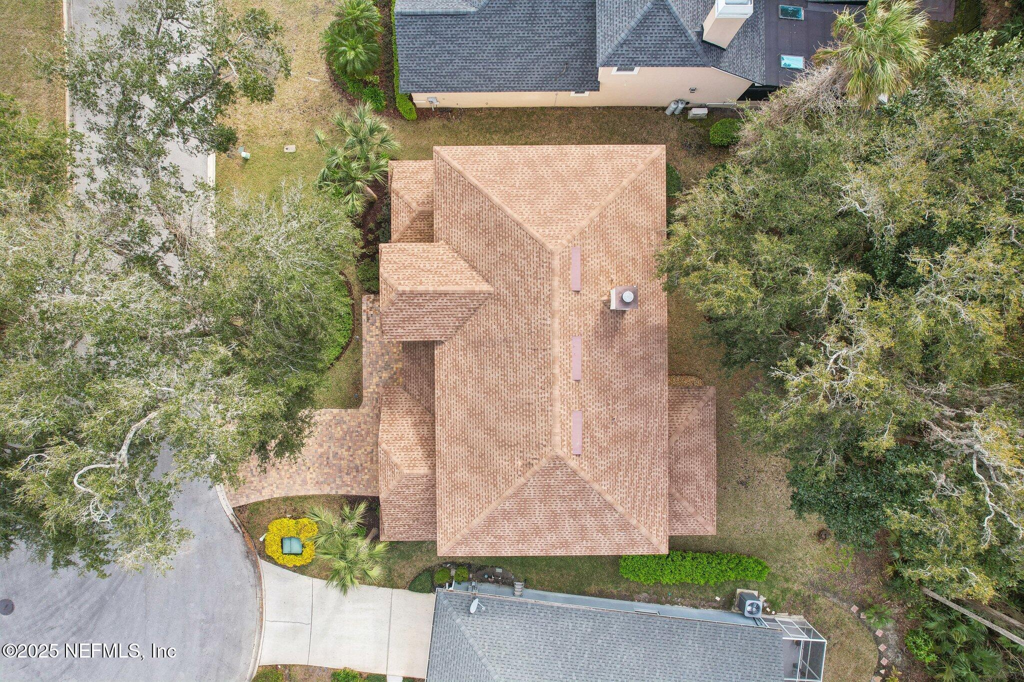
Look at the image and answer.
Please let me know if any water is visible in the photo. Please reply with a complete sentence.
No, there is no water in the image.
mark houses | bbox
[423,572,786,682]
[395,0,766,107]
[375,144,717,557]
